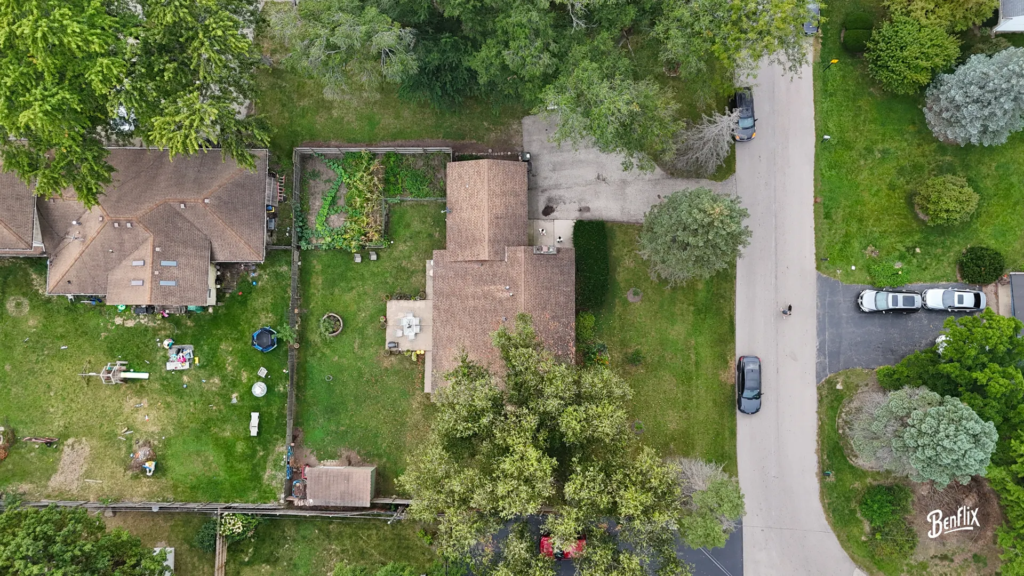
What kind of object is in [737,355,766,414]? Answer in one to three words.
car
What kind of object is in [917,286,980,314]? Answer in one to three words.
car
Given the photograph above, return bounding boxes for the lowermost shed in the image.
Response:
[307,464,377,507]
